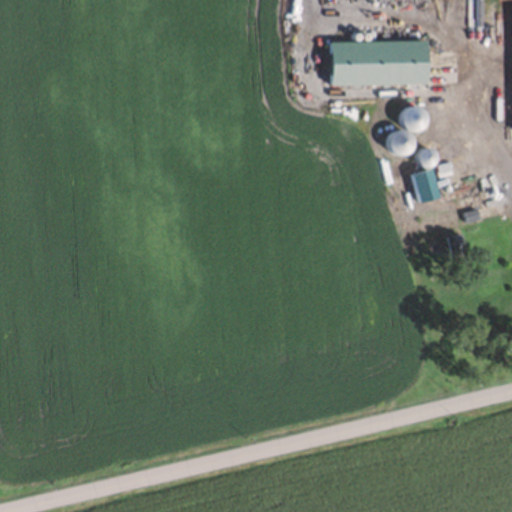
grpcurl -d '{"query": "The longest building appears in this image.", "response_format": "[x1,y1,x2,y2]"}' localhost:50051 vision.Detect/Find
[328,42,430,86]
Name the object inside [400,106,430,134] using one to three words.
silo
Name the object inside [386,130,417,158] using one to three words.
silo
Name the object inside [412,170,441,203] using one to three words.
shed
